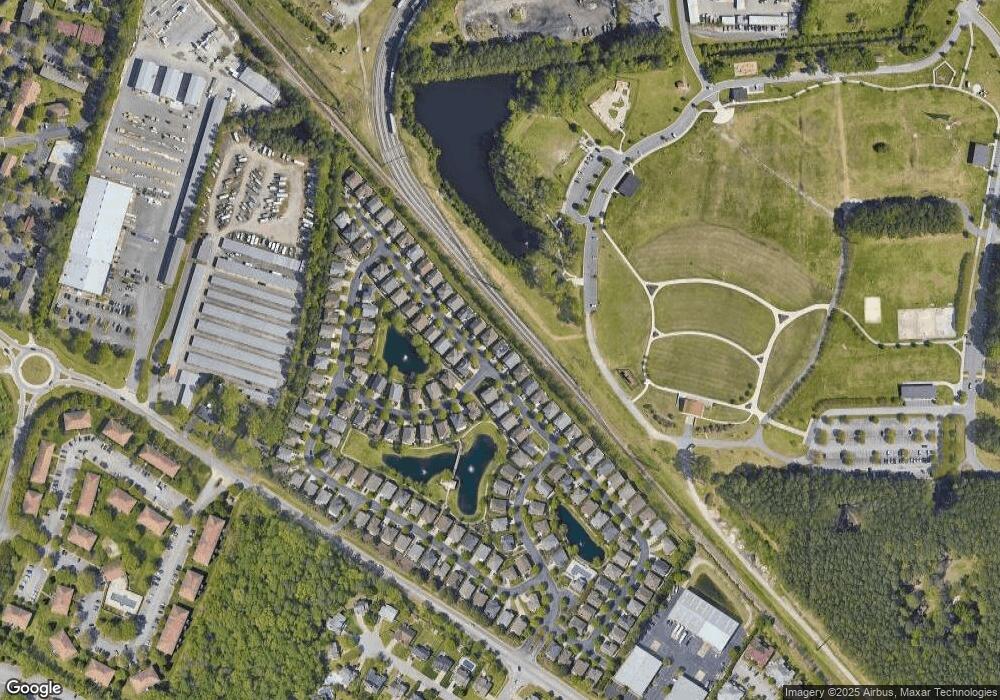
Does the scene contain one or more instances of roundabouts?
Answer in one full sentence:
Yes, this view includes a roundabout.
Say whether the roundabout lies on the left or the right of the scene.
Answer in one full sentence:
You can find the roundabout on the left side of the picture.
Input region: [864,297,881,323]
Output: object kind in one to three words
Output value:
sports court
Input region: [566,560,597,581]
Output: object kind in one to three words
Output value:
swimming pool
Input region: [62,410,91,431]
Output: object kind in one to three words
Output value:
building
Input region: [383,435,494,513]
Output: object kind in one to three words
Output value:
pond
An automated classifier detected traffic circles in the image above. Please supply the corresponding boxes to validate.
[9,343,66,399]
